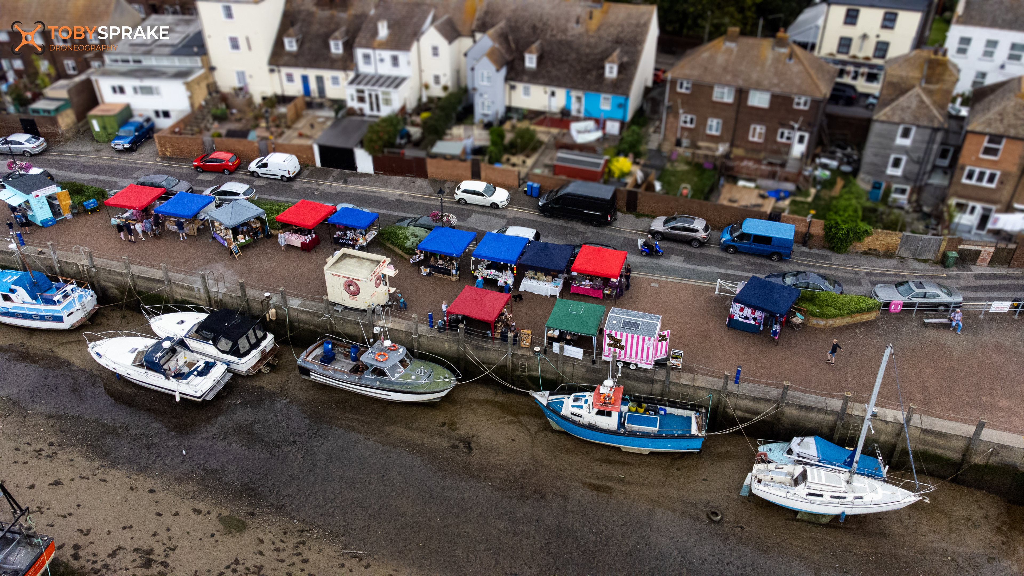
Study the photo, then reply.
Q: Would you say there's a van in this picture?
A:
Yes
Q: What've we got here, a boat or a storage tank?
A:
boat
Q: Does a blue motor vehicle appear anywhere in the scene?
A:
Yes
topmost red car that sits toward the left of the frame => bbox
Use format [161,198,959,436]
[189,151,244,175]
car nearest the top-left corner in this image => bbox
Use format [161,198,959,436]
[0,133,47,156]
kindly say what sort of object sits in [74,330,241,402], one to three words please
boat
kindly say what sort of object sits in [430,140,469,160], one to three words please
shed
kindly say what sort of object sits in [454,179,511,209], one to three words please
car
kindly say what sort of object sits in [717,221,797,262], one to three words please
van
